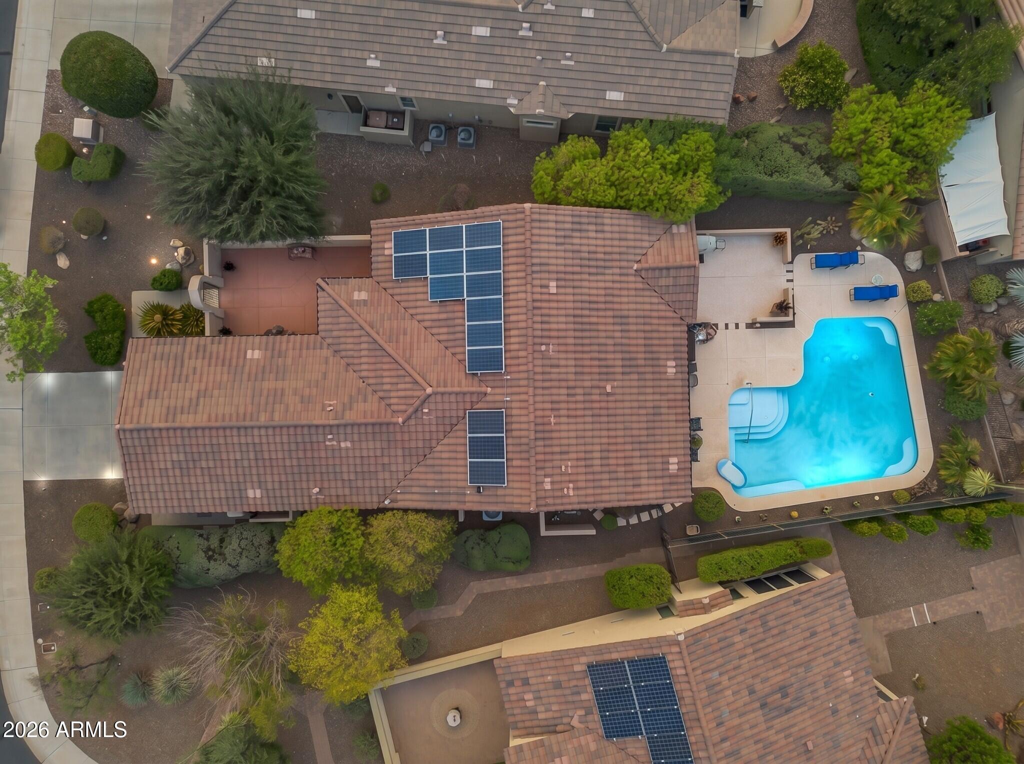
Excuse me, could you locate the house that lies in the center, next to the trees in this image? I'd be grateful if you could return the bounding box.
[114,201,701,517]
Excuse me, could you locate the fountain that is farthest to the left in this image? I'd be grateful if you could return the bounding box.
[445,707,462,725]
